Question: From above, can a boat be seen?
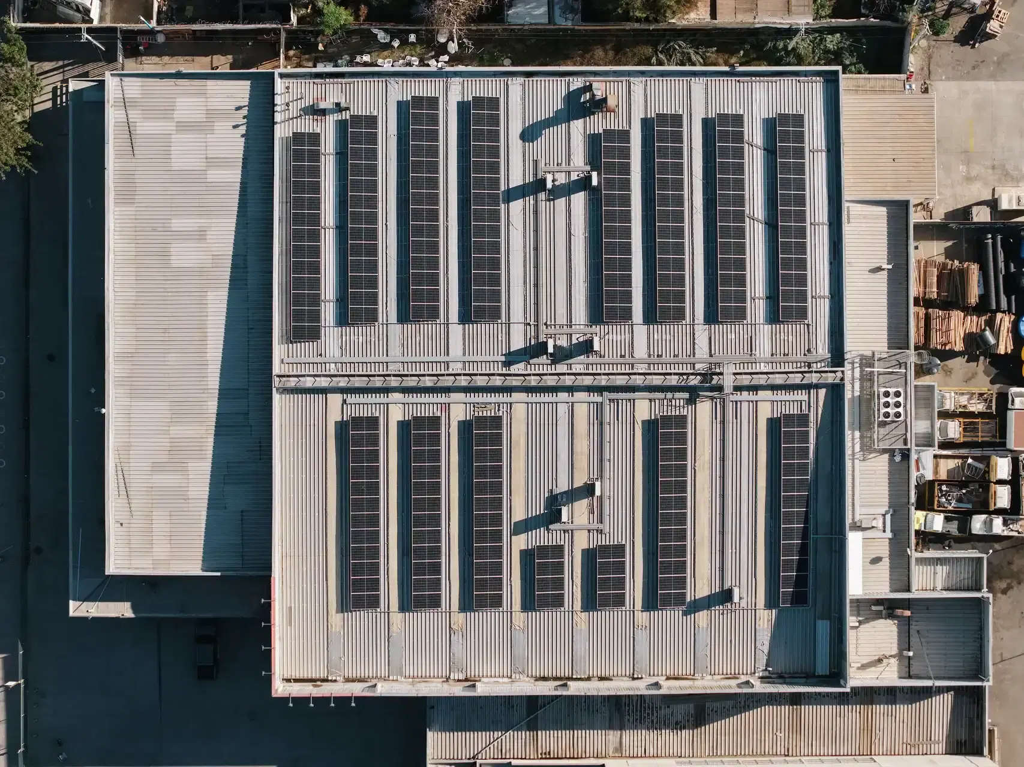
No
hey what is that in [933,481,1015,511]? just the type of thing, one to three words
truck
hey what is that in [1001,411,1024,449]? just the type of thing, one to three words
truck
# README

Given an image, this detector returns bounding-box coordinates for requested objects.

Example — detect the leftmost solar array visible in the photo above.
[291,131,321,341]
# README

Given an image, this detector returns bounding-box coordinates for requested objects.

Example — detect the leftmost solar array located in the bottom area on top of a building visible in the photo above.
[350,414,380,610]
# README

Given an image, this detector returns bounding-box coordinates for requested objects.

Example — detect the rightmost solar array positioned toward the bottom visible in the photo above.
[781,413,810,606]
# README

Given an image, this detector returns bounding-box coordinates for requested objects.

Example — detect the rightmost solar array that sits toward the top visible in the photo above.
[777,111,808,322]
